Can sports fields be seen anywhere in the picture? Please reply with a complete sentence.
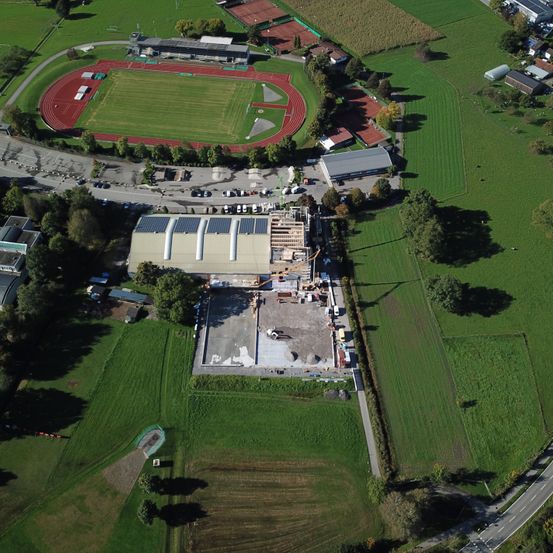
Yes, the picture does show a sports field.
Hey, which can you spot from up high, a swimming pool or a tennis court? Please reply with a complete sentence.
The image shows a tennis court.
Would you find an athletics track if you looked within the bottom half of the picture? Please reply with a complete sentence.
No, I can find no athletics track within the bottom half of the picture.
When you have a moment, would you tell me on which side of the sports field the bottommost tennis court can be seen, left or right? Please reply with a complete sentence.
Relative to the sports field, the bottommost tennis court lies to the right.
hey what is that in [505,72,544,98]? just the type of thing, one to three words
barn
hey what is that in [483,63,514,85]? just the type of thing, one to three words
greenhouse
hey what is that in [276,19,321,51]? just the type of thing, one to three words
tennis court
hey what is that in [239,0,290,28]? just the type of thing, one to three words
tennis court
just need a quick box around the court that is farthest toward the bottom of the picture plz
[354,121,390,148]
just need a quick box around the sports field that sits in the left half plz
[73,68,291,144]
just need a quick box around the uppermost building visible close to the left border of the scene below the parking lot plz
[0,215,41,281]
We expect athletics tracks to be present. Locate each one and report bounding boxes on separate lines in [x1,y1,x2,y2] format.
[37,58,306,154]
